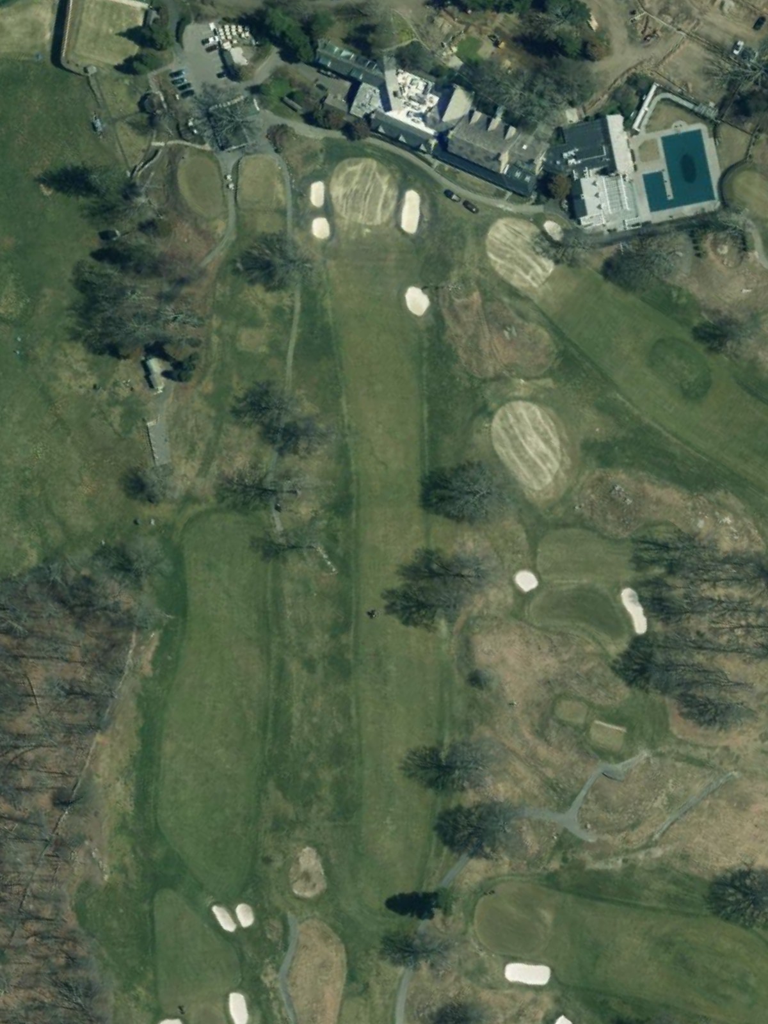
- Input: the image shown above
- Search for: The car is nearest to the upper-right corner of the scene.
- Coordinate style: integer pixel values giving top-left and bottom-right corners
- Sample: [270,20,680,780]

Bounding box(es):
[753,15,765,30]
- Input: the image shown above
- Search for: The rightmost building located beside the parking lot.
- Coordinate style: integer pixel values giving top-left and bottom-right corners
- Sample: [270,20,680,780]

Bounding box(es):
[315,39,549,196]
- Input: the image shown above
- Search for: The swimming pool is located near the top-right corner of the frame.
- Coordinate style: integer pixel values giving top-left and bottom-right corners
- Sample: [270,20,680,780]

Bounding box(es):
[629,121,722,224]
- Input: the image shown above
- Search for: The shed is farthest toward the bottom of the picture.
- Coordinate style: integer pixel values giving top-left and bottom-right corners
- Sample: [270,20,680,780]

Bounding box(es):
[148,357,164,395]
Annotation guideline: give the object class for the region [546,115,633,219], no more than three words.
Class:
building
